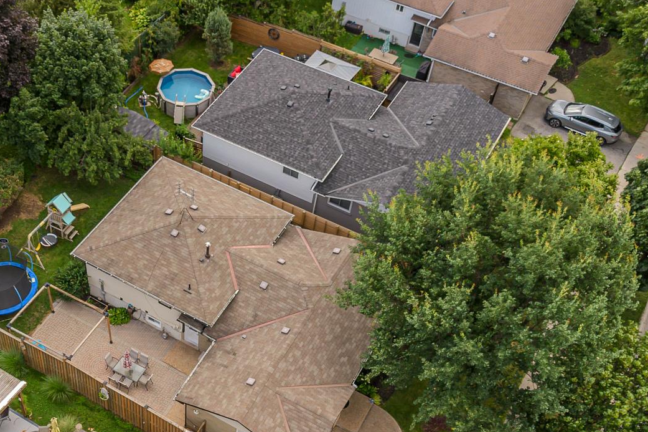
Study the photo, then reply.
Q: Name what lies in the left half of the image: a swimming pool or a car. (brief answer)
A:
swimming pool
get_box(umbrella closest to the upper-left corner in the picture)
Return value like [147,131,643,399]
[149,61,174,81]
